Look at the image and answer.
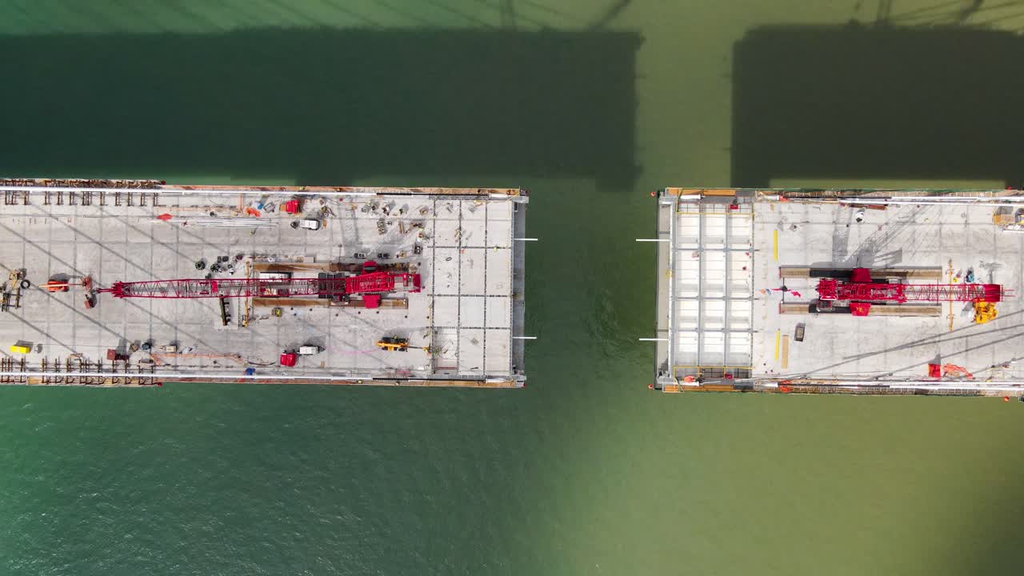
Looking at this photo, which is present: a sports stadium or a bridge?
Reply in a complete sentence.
I can see a bridge in this picture.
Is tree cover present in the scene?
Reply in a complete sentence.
No, no tree cover is visible.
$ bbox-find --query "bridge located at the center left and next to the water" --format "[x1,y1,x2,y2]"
[0,181,538,388]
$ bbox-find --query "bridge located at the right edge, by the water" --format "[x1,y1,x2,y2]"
[636,187,1024,399]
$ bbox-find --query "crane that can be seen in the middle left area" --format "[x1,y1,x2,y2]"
[99,261,431,307]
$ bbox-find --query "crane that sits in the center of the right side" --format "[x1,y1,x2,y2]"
[750,269,1015,315]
